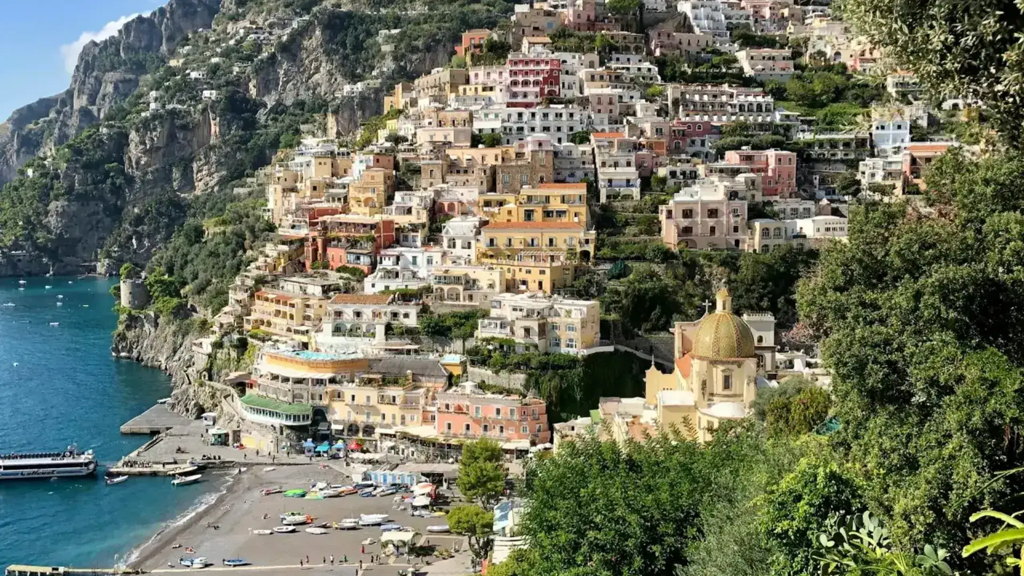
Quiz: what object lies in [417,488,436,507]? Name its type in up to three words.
umbrella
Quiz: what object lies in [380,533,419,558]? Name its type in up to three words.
building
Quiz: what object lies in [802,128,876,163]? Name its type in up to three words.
house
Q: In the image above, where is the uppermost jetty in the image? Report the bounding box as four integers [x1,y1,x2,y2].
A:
[121,404,195,436]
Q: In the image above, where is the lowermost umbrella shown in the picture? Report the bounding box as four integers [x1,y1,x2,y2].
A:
[402,556,422,575]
